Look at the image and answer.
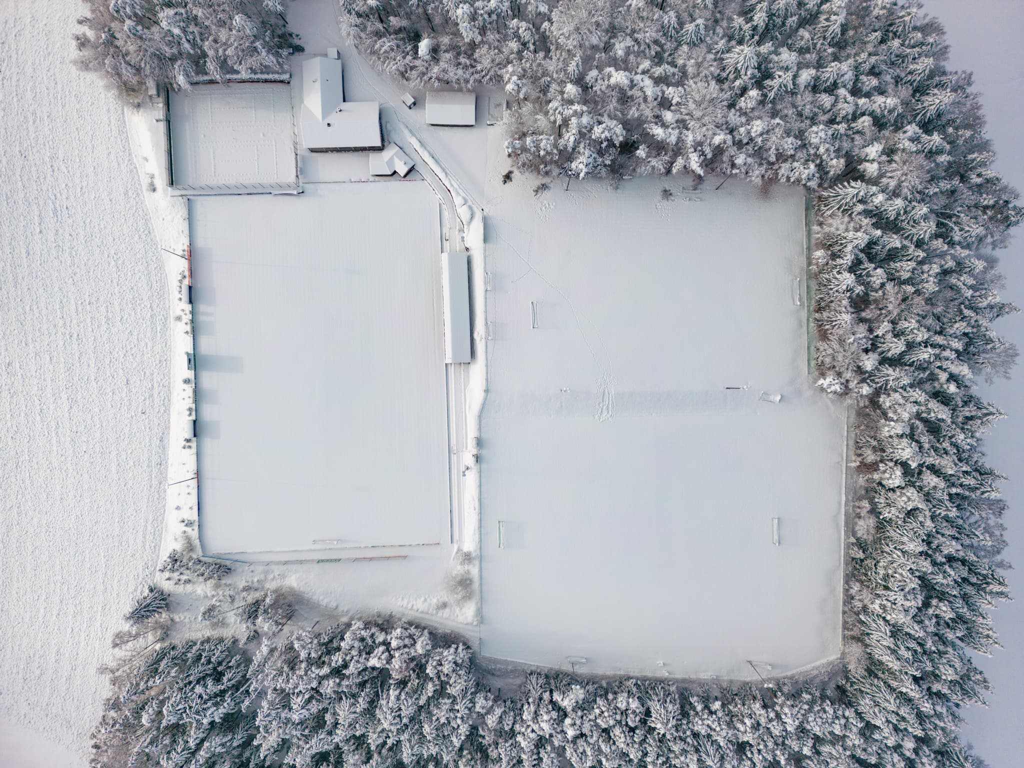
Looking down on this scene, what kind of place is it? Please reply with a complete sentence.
The area seen from above is a sports ground.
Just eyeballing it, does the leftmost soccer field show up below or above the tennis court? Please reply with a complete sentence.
The leftmost soccer field is found below the tennis court in the photo.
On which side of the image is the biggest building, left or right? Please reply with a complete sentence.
It is on the left.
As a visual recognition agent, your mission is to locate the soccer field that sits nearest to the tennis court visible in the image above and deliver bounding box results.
[191,183,451,554]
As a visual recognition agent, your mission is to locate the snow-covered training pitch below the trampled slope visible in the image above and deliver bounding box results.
[482,421,844,677]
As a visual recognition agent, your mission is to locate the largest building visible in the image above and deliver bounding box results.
[301,57,383,154]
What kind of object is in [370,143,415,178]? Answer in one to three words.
house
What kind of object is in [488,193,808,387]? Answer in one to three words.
sports field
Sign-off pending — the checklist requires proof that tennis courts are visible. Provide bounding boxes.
[171,83,300,190]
